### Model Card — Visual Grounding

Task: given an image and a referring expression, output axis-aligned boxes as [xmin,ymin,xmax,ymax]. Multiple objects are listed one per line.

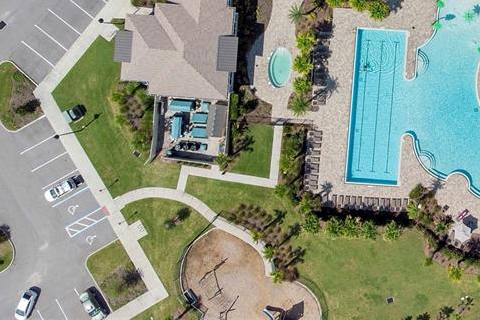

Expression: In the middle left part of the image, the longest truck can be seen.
[43,175,86,203]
